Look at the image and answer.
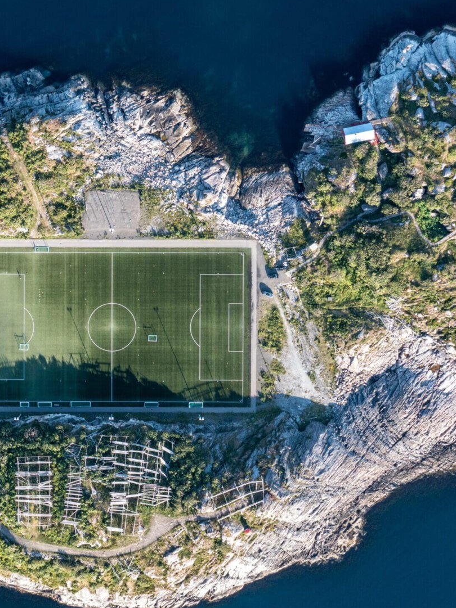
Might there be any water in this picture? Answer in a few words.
Yes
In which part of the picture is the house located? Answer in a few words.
top right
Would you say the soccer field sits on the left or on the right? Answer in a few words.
left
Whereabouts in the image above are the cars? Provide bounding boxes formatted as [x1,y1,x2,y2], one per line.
[268,273,279,279]
[262,289,274,299]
